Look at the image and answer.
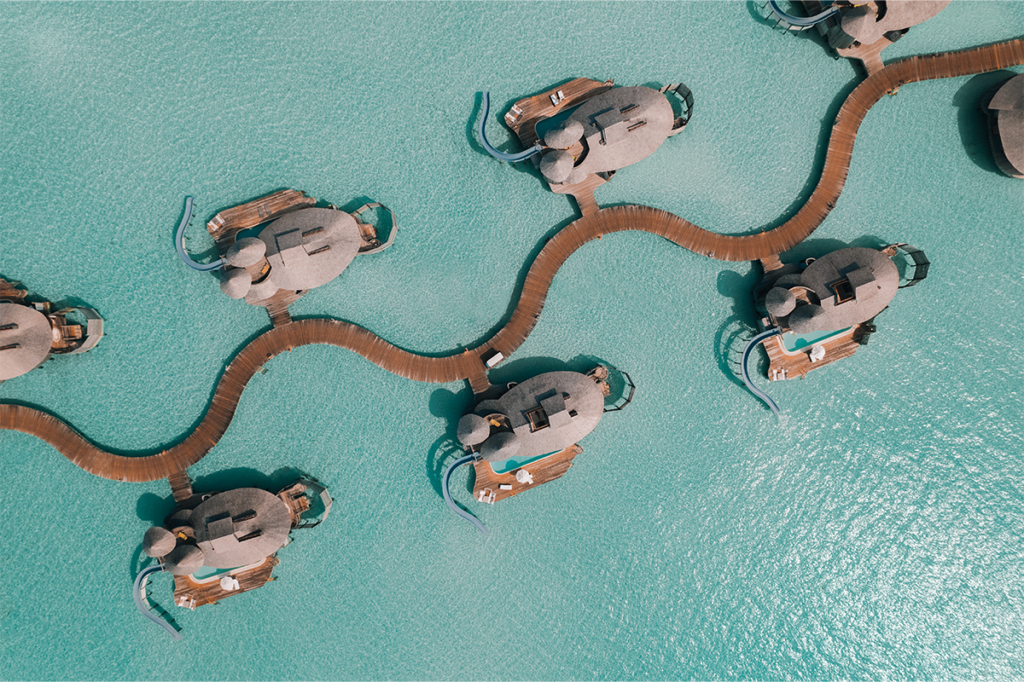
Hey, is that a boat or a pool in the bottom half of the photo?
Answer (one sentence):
What appears in the bottom half of the photo is a pool.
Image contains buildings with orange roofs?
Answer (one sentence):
No, the photo shows no building with an orange roof.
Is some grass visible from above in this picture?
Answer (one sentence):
No, the scene doesn't show any grass.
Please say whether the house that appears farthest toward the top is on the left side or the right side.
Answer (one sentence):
The house that appears farthest toward the top appears in the right half of the scene.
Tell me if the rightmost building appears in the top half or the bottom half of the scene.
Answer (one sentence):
It is in the top half that the rightmost building appears.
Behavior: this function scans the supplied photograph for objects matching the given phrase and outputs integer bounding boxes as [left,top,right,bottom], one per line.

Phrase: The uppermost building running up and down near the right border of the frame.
[973,68,1024,181]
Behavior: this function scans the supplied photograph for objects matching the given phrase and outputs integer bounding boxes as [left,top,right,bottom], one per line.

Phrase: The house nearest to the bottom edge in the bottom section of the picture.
[141,471,318,610]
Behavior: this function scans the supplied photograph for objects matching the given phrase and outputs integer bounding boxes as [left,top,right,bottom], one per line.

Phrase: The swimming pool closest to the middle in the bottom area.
[488,447,568,474]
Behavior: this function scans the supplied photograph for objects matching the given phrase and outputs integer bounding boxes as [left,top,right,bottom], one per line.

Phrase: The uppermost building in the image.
[798,0,955,78]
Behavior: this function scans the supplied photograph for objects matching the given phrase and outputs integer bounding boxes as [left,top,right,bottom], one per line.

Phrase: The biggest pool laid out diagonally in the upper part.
[534,103,587,144]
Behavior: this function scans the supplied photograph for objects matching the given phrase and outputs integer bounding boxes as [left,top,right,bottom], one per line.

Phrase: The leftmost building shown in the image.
[0,287,86,388]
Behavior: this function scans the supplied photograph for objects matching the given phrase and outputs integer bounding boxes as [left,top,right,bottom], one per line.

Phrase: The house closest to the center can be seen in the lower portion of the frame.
[458,367,615,503]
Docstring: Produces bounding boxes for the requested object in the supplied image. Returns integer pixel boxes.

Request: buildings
[458,367,615,503]
[202,191,383,330]
[973,68,1024,181]
[0,287,86,388]
[749,248,902,383]
[141,471,318,610]
[503,79,682,221]
[798,0,955,78]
